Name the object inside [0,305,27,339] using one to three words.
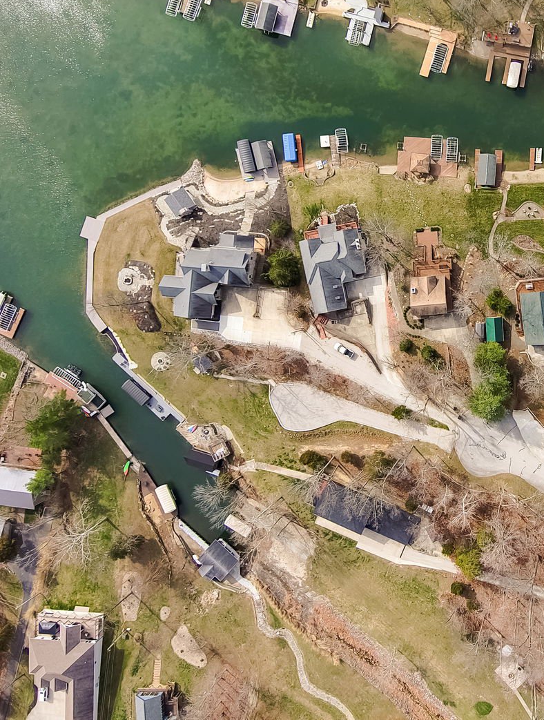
pier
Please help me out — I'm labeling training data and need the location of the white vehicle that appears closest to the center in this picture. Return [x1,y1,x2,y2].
[331,341,355,361]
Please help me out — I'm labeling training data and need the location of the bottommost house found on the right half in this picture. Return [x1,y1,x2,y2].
[314,473,423,546]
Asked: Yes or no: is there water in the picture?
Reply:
Yes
